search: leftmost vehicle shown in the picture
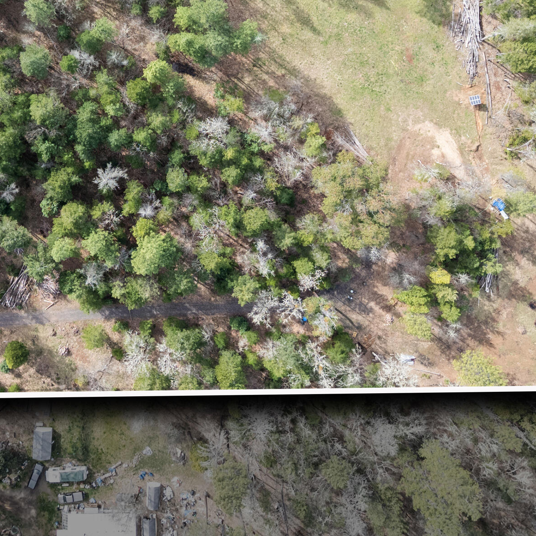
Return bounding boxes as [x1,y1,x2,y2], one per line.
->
[27,464,43,492]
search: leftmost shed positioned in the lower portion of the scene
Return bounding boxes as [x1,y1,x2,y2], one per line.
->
[32,424,53,462]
